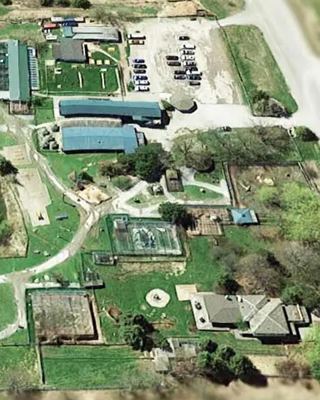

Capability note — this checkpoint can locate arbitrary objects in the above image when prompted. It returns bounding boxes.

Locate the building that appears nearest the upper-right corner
[169,90,194,112]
